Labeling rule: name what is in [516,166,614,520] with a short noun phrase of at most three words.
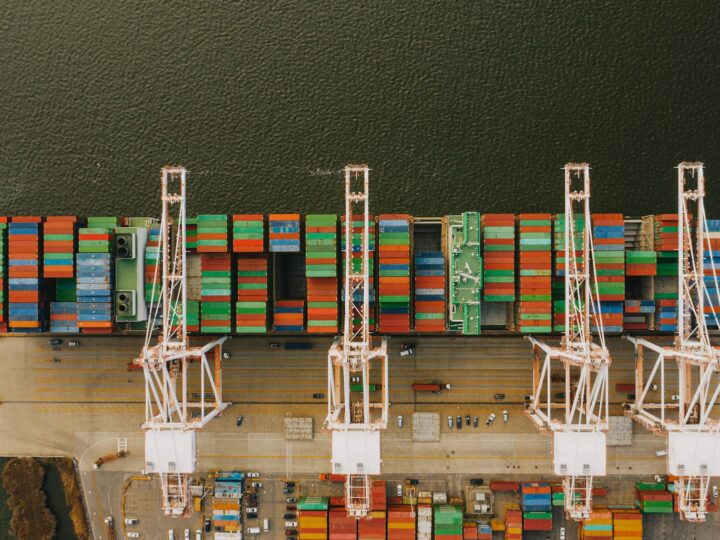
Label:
container crane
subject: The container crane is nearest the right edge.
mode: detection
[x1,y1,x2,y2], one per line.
[615,166,720,520]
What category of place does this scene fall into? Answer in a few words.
port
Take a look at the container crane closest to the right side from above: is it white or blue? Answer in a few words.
white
